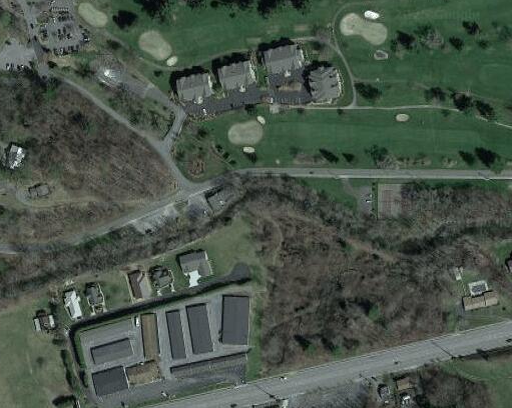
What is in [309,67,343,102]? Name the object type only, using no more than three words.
building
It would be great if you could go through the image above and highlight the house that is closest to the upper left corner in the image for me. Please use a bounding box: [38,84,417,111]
[6,144,26,170]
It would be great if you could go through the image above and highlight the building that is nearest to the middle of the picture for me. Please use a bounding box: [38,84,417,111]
[206,186,235,215]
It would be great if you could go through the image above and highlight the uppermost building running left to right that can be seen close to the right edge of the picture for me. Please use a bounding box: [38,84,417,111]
[461,293,496,311]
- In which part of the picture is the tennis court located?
right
